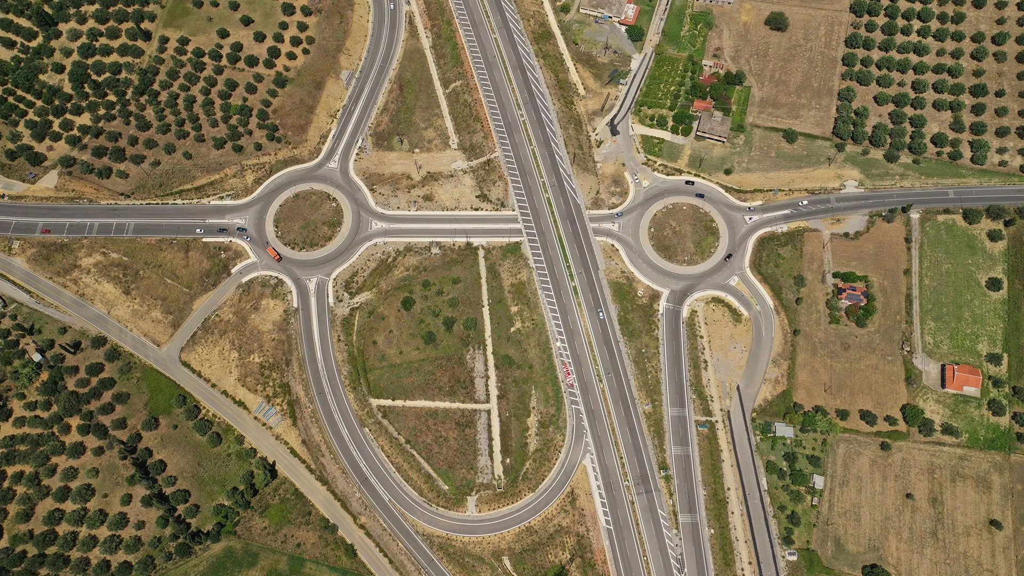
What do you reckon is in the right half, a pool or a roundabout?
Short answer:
roundabout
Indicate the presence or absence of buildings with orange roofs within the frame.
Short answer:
Yes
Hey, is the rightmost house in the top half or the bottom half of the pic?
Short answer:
bottom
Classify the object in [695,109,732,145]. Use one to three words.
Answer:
house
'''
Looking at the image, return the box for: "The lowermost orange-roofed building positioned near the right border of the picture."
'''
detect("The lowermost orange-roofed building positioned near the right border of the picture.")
[937,363,982,399]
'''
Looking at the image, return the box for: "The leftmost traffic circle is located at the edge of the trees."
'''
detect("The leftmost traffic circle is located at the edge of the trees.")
[202,125,523,307]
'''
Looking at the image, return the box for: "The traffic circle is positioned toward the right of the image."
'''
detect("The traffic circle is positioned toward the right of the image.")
[588,163,790,323]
